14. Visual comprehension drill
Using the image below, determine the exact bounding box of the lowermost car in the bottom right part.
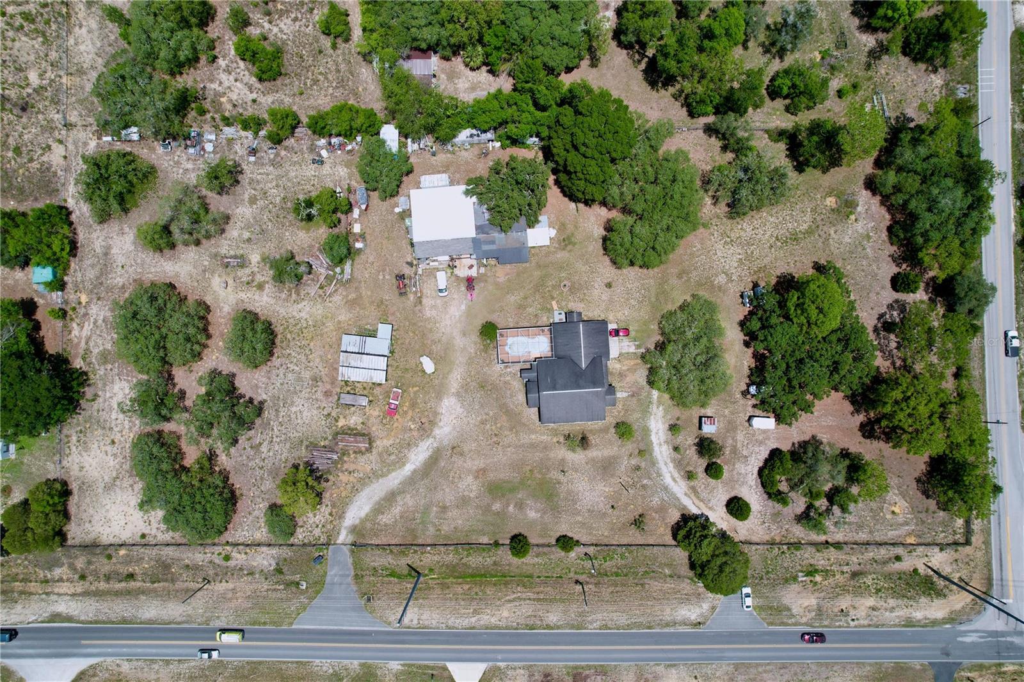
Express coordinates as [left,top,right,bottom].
[801,631,825,643]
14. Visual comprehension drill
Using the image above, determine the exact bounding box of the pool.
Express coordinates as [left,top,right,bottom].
[499,328,554,363]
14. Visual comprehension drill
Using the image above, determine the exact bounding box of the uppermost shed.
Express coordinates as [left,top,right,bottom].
[398,50,435,87]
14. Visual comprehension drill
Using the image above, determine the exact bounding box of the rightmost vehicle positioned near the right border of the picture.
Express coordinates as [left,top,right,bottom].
[1003,330,1018,358]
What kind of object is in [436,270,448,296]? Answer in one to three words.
vehicle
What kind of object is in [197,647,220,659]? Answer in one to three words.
vehicle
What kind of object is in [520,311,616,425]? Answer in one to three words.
house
